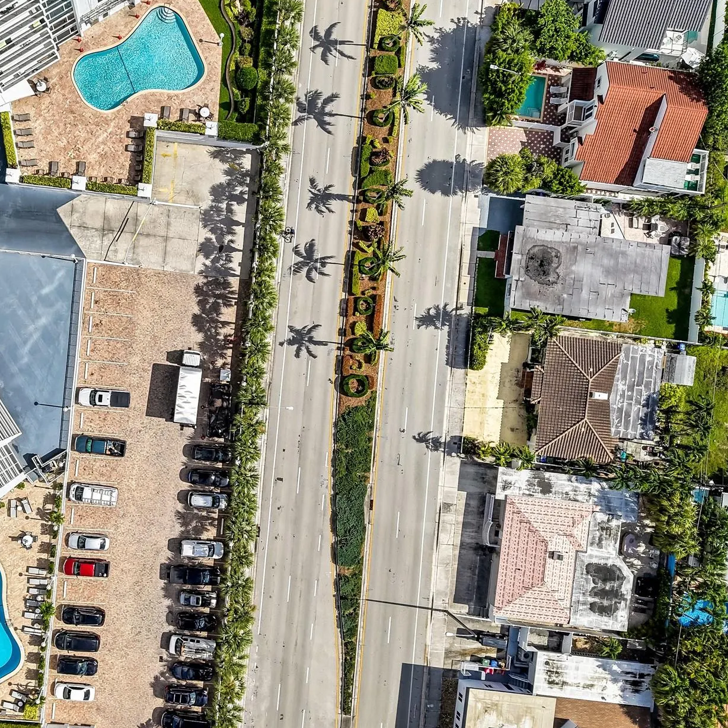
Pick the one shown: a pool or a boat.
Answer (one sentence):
Visible in the photo is a pool.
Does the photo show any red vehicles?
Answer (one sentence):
Yes, the photo shows a red vehicle.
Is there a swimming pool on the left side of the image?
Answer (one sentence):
Yes, you'll find a swimming pool on the left side of the image.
